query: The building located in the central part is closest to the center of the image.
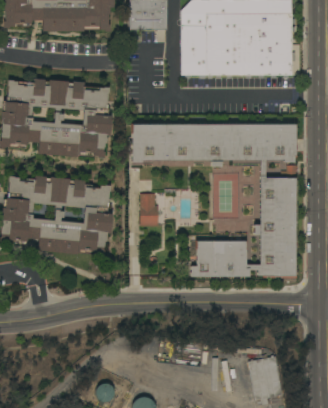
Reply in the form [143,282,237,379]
[140,193,158,226]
